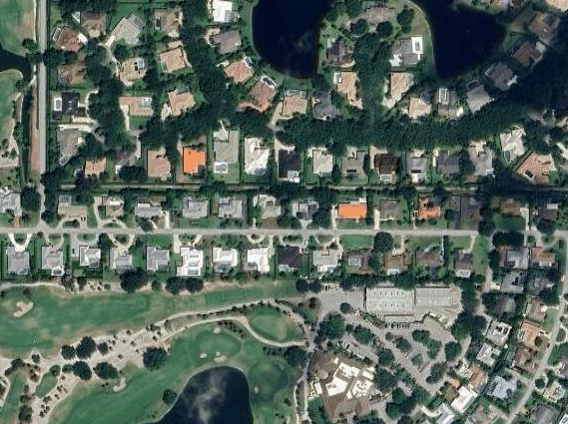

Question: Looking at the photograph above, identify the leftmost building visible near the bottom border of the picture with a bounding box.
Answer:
[307,350,378,420]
